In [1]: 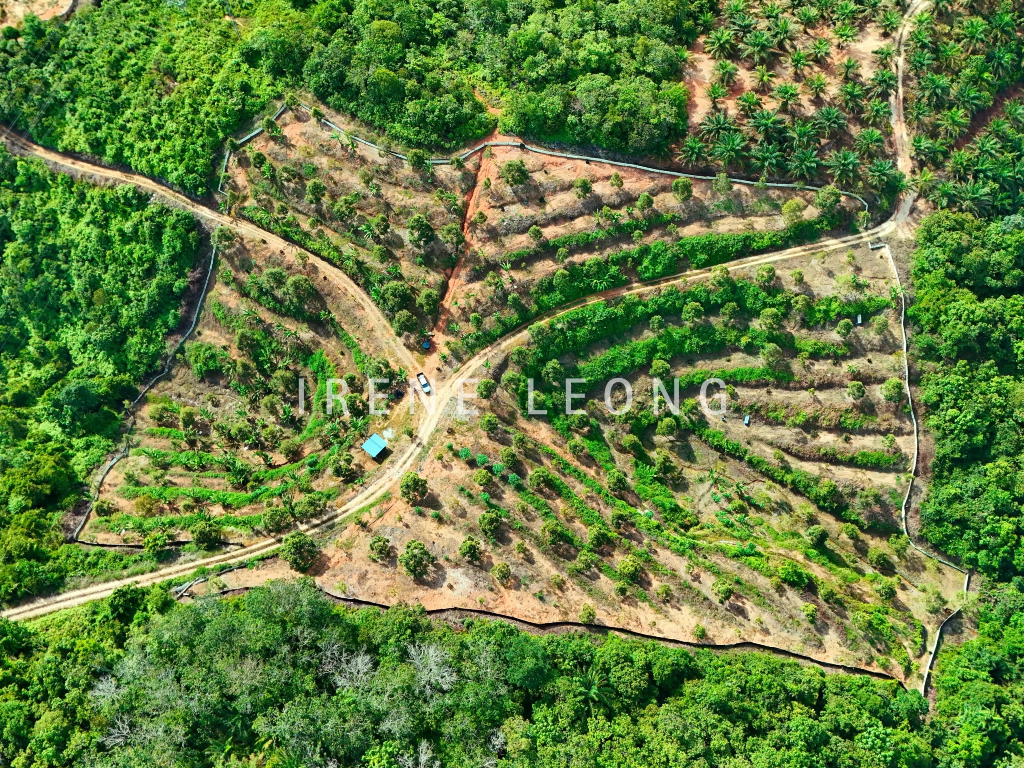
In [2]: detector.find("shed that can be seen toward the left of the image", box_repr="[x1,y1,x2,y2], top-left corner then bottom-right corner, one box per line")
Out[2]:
[362,434,388,461]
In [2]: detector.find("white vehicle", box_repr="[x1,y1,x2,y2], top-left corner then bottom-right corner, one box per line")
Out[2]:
[416,373,431,395]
